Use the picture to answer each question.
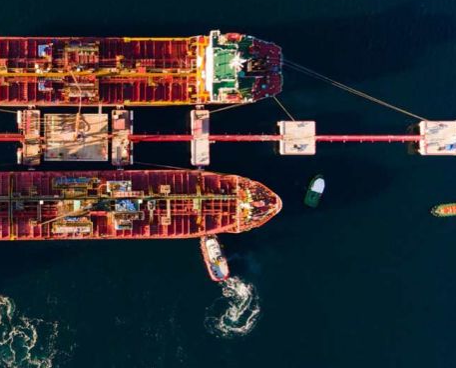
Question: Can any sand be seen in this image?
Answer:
No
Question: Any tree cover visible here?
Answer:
No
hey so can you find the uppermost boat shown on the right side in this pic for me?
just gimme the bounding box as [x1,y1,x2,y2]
[306,176,327,208]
